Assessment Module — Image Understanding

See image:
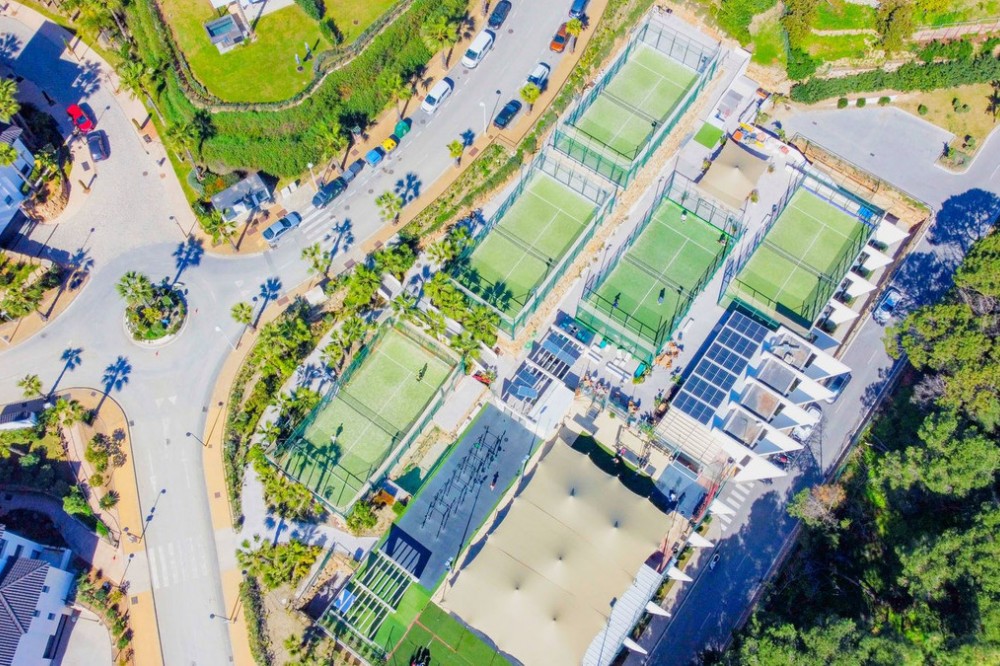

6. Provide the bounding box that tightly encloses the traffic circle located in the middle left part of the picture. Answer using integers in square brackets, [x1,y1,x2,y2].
[122,280,191,347]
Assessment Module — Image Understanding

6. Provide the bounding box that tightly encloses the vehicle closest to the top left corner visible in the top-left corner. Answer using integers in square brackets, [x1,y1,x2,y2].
[62,101,92,132]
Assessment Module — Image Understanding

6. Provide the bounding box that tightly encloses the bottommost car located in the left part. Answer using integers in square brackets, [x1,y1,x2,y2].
[261,210,300,240]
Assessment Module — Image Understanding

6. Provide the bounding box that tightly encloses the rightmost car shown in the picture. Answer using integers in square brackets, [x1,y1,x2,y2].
[875,286,905,321]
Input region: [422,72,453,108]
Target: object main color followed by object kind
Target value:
white car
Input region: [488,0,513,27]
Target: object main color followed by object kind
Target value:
blue car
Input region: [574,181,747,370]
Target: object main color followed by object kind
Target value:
green sports court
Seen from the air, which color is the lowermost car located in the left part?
blue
